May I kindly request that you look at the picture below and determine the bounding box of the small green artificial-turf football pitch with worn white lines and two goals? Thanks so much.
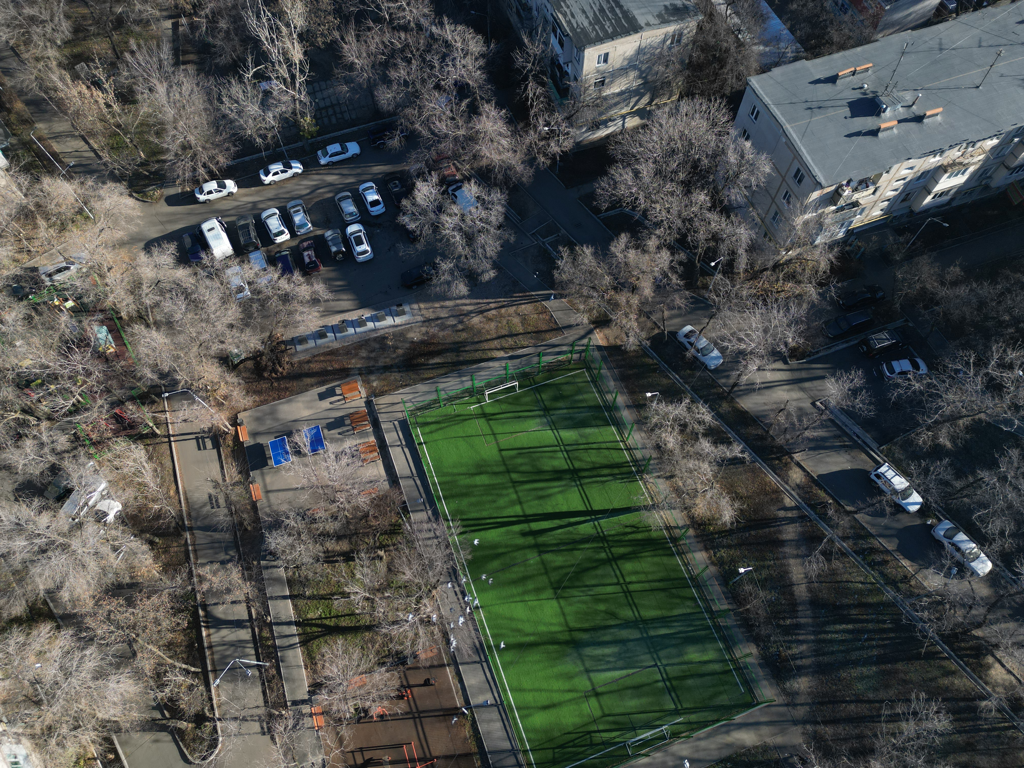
[411,360,754,768]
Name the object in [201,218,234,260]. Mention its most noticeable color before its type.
white van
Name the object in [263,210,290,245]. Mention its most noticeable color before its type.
white car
